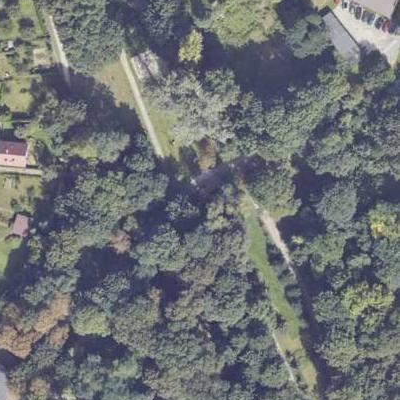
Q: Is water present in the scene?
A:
No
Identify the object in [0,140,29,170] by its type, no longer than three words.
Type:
house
